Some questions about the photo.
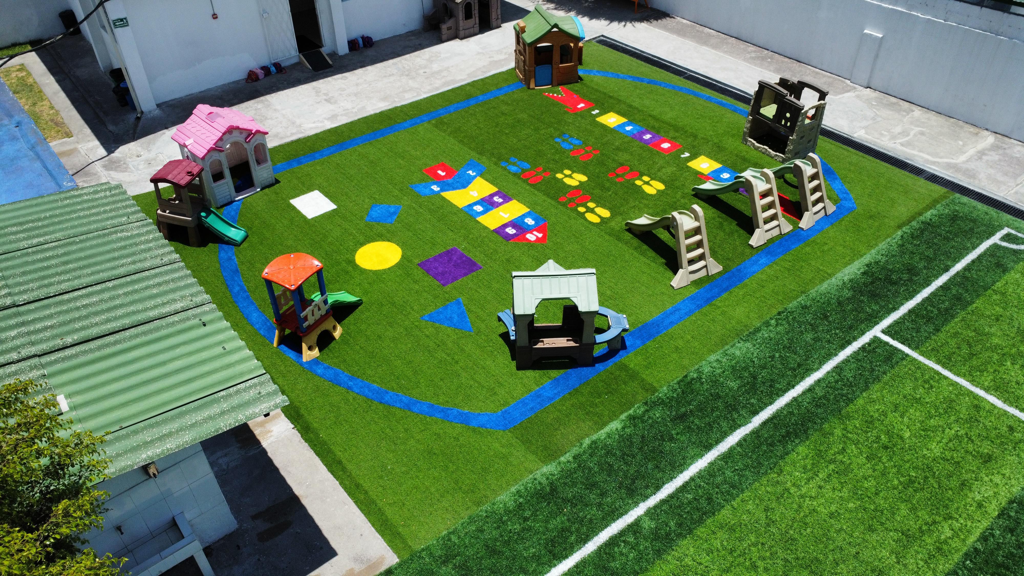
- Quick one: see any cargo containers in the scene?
No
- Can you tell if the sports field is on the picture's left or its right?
right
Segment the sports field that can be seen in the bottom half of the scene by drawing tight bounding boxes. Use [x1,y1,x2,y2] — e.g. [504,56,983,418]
[376,192,1024,576]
